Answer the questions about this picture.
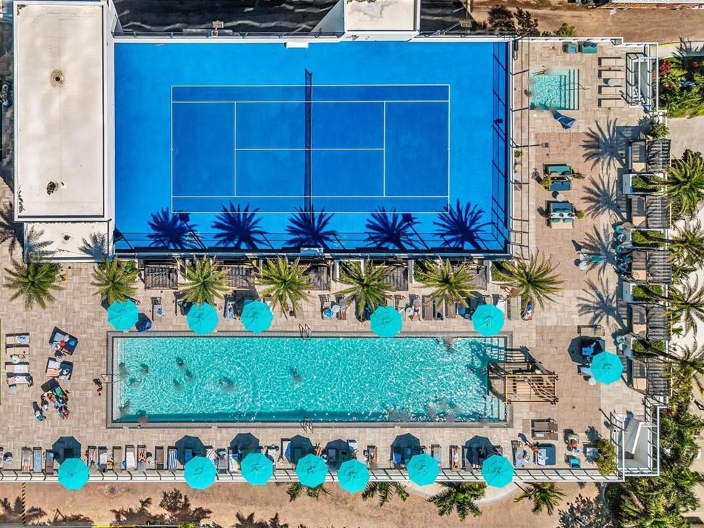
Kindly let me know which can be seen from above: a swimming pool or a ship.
swimming pool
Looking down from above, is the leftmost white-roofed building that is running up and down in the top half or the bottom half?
top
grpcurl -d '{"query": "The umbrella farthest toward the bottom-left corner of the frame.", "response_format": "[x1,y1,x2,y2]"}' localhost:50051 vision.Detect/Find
[55,458,87,489]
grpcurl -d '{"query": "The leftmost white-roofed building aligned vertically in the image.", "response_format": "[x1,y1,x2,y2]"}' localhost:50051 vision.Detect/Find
[14,0,115,220]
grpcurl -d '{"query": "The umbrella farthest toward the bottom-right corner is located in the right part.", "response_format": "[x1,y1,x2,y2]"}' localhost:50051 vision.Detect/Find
[587,354,623,385]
